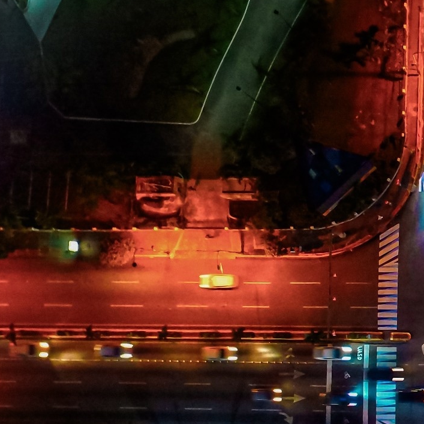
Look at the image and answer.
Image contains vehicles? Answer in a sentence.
Yes, looking at the shot, I can spot a vehicle.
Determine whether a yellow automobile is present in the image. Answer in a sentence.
Yes, the image includes a yellow automobile.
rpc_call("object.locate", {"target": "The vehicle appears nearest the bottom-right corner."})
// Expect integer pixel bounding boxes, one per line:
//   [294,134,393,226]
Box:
[397,388,424,402]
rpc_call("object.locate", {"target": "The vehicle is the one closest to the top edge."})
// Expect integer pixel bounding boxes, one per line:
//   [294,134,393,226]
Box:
[199,272,238,290]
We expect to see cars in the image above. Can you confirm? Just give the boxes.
[315,346,353,362]
[397,388,424,402]
[97,343,135,358]
[251,388,285,403]
[16,342,52,357]
[199,272,238,290]
[324,391,361,405]
[368,367,405,381]
[204,346,240,361]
